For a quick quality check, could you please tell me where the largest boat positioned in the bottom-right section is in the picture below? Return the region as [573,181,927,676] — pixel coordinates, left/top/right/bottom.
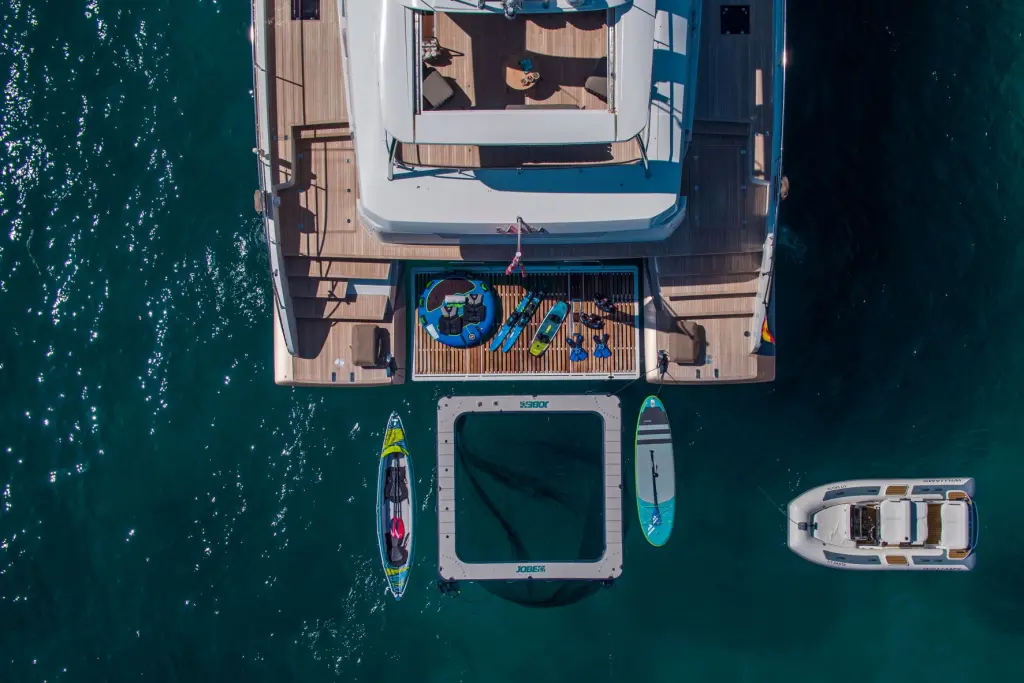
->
[789,478,978,571]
